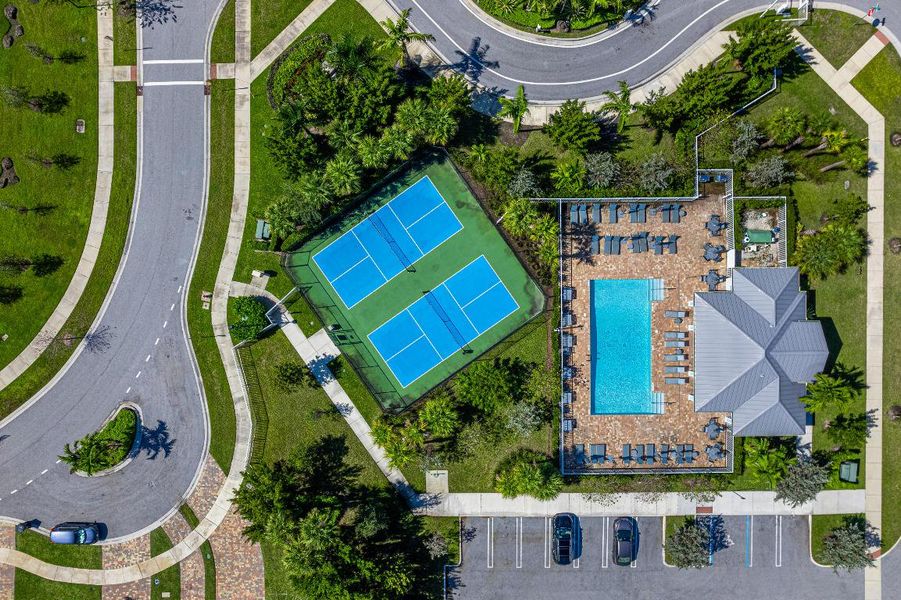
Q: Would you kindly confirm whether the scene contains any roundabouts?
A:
No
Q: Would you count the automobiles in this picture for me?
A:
3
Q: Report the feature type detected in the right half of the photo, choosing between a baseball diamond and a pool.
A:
pool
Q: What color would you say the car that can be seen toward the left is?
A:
blue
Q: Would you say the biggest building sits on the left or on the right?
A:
right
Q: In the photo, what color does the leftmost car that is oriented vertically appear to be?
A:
black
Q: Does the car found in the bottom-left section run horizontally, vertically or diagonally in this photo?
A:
horizontally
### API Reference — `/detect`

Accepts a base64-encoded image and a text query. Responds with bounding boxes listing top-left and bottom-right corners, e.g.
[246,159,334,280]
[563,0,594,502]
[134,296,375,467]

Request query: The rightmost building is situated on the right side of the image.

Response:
[690,267,831,435]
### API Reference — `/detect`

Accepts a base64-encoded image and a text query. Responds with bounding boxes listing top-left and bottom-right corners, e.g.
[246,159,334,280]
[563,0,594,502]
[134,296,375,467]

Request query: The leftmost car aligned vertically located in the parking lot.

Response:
[550,509,575,564]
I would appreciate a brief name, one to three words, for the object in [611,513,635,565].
car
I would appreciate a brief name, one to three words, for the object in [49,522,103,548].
car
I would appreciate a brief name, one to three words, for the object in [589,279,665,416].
swimming pool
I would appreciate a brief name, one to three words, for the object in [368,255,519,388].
sports court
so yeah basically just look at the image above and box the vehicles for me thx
[49,522,103,548]
[550,509,575,564]
[611,513,635,565]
